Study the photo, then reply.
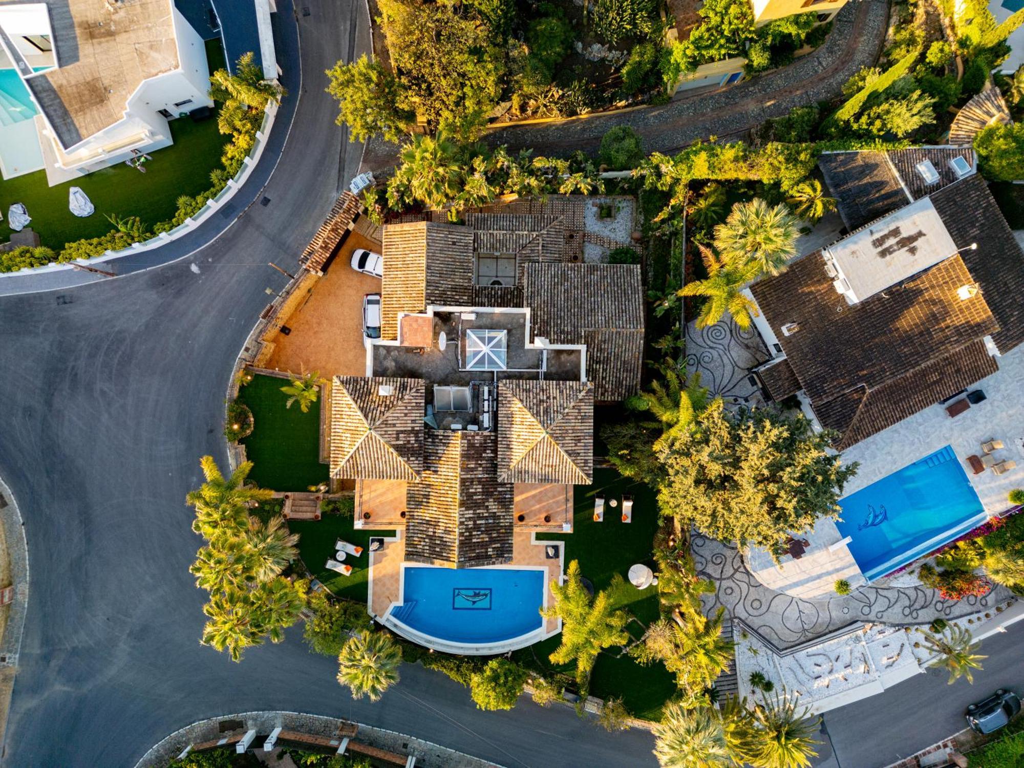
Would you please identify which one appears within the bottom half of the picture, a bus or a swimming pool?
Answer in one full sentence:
The one visible within the bottom half of the picture is a swimming pool.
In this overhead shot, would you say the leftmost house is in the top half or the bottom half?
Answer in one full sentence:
The leftmost house is in the top half of the image.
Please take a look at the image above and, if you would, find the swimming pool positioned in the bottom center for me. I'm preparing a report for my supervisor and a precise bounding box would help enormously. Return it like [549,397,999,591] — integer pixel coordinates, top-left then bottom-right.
[378,562,560,663]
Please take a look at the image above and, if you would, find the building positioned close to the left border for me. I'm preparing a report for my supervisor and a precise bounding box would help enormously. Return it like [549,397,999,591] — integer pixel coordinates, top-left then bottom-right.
[0,0,217,181]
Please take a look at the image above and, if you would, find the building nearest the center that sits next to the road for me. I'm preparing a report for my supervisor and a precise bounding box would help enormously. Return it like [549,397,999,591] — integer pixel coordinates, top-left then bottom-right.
[328,212,647,571]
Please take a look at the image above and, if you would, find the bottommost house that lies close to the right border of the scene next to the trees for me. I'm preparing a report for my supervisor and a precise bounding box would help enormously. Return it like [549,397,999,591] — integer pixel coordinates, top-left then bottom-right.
[751,145,1024,450]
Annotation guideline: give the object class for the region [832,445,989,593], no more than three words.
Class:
swimming pool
